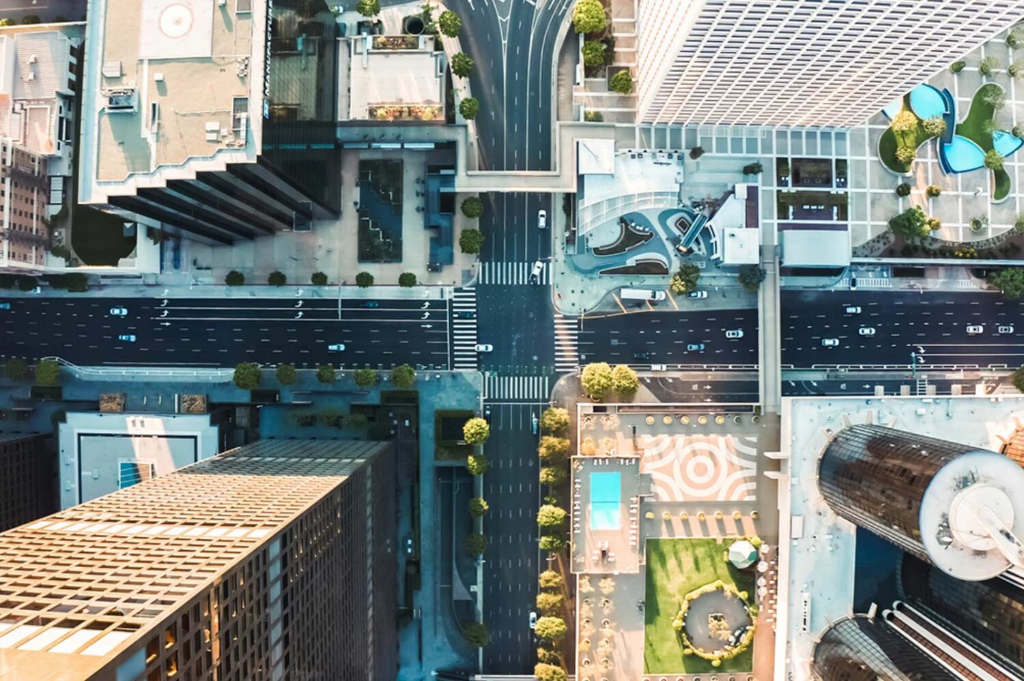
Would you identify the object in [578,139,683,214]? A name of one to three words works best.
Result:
building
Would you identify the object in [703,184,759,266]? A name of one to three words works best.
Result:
building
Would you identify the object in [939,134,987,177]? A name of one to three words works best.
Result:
swimming pool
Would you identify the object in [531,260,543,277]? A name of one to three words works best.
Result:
vehicle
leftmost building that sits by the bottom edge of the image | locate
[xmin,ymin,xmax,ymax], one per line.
[0,440,394,681]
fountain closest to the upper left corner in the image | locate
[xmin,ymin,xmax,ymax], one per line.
[425,162,456,264]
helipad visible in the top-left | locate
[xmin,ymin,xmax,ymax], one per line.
[140,0,214,58]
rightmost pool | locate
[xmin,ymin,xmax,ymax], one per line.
[992,129,1024,160]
